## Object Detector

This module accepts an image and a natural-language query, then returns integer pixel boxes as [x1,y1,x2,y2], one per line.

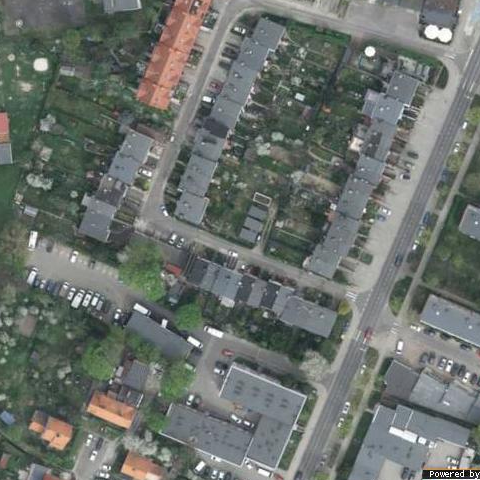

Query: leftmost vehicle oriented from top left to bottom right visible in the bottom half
[132,302,149,315]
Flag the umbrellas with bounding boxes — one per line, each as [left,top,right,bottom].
[437,28,452,43]
[425,26,439,40]
[365,47,376,58]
